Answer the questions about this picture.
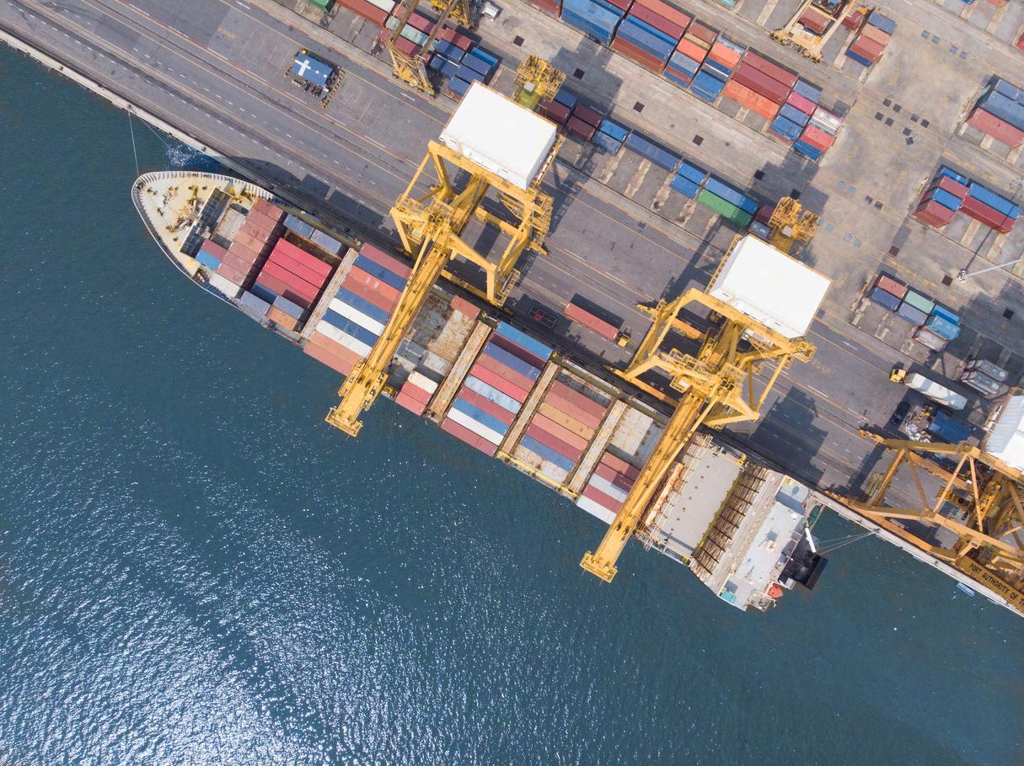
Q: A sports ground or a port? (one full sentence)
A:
This looks like a port.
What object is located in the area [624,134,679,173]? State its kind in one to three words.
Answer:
shipping container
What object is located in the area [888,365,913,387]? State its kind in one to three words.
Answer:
truck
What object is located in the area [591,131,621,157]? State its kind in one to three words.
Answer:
shipping container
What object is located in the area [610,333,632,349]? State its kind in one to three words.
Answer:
vehicle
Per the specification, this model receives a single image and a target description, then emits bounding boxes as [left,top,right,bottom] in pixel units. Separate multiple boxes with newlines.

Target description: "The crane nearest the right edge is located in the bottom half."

[818,367,1024,610]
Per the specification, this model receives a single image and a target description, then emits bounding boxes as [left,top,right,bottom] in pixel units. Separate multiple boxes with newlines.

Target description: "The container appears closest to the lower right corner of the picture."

[907,374,966,410]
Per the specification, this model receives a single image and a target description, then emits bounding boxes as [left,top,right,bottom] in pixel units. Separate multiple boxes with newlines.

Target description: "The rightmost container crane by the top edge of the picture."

[768,0,860,64]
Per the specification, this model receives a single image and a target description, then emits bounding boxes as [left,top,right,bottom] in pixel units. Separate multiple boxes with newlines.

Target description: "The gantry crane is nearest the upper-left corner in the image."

[379,0,480,101]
